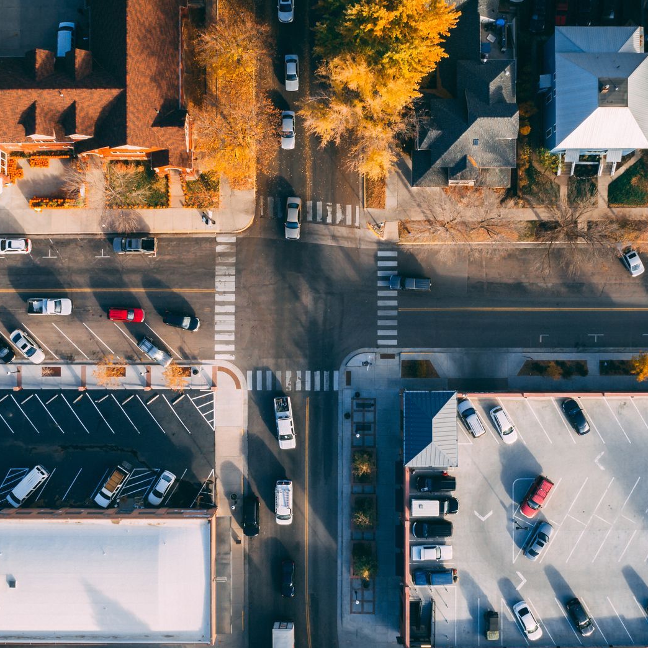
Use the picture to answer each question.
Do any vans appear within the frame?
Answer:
Yes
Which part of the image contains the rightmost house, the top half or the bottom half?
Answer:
top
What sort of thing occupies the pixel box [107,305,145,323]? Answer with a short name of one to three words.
car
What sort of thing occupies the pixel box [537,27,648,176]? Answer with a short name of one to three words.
house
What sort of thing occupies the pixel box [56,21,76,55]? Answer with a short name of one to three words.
vehicle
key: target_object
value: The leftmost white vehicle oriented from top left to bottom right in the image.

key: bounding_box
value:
[5,323,49,368]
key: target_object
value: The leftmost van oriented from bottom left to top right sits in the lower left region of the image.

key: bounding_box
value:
[8,461,51,507]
